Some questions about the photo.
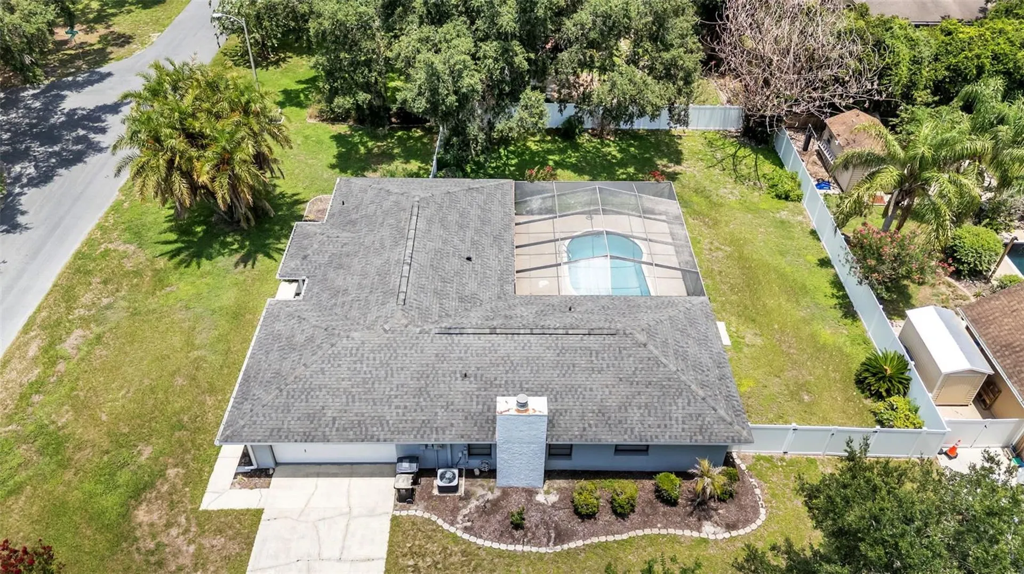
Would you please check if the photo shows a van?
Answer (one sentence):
No, no van can be seen from above.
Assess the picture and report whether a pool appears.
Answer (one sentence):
Yes, the photo shows a pool.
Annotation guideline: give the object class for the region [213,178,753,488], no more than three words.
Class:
house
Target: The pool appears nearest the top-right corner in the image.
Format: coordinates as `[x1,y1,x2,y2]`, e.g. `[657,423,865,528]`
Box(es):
[975,225,1024,287]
